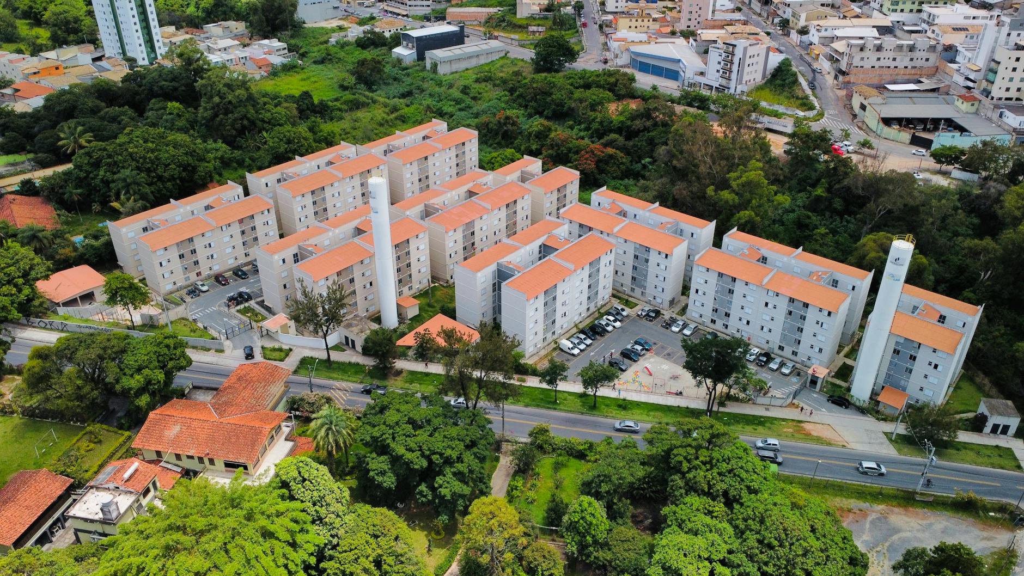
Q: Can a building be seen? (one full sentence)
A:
Yes, a building appears in the view.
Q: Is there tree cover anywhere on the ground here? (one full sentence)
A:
Yes, the picture does contain tree cover.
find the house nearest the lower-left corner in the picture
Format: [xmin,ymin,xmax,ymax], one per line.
[0,465,81,554]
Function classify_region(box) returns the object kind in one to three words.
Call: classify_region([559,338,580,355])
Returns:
vehicle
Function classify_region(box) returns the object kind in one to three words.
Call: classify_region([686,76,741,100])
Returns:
building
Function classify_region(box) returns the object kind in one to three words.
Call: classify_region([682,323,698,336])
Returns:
vehicle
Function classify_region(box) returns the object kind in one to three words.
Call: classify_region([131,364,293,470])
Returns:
house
